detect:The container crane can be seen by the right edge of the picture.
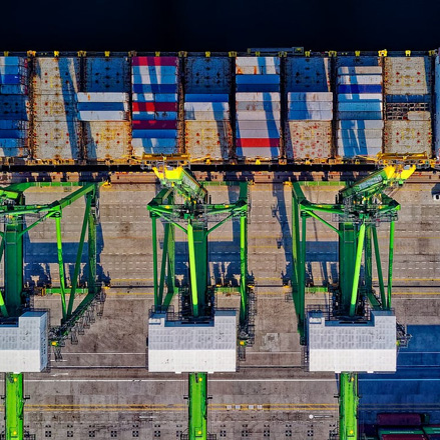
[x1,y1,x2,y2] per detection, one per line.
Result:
[284,152,439,440]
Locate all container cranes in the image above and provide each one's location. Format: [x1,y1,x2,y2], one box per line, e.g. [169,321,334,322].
[131,152,258,440]
[284,152,439,440]
[0,179,106,440]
